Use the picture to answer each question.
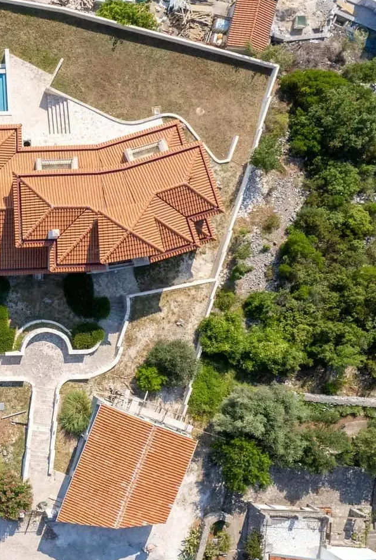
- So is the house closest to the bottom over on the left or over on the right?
right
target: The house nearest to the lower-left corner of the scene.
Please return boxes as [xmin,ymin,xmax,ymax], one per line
[55,392,198,530]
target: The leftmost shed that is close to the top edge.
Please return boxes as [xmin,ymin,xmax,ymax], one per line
[222,0,277,55]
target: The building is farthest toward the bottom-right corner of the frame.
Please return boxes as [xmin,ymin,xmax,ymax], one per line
[240,496,376,560]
